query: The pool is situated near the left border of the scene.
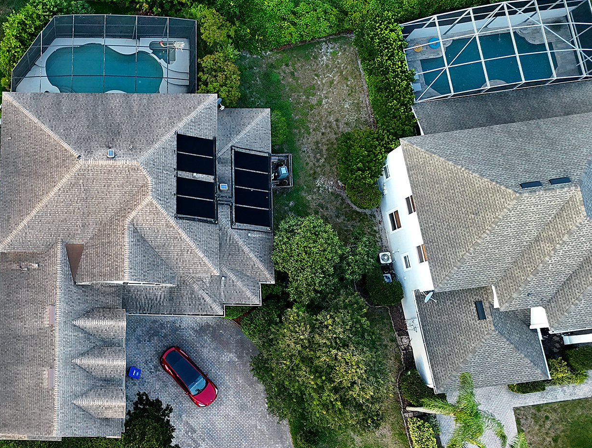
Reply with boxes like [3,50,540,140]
[17,35,192,94]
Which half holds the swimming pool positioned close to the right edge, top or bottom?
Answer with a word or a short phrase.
top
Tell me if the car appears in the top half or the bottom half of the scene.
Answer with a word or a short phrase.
bottom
